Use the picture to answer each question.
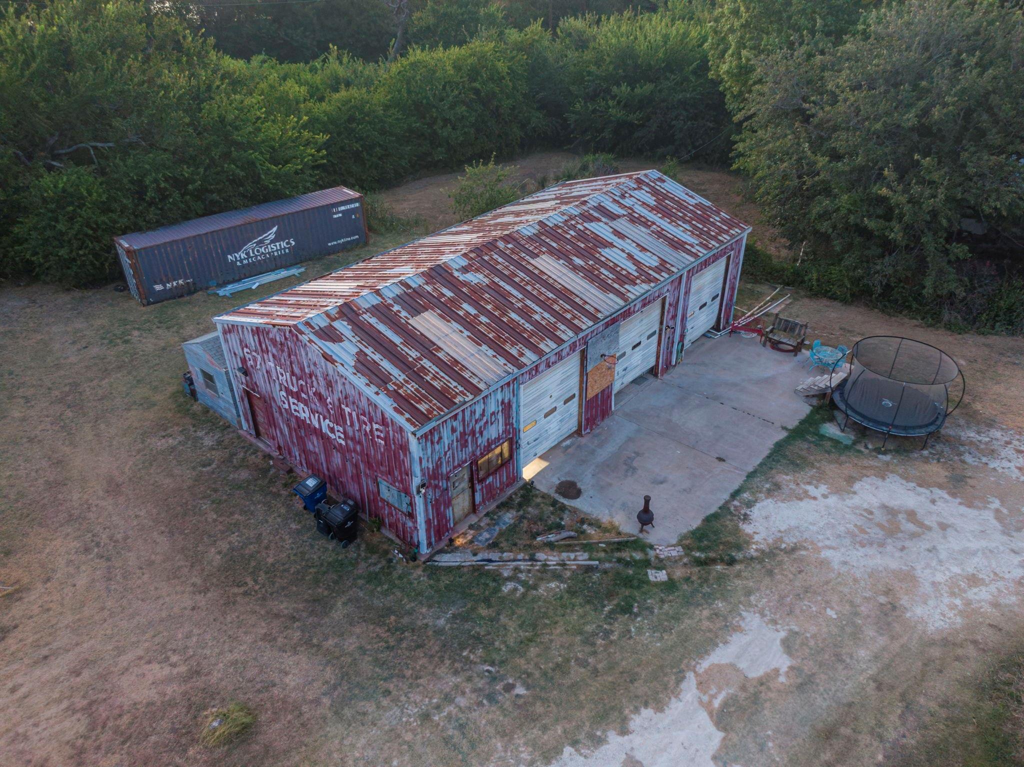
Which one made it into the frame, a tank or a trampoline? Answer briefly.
trampoline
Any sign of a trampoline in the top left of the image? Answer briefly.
No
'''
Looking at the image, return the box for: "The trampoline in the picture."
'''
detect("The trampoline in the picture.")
[823,335,959,457]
